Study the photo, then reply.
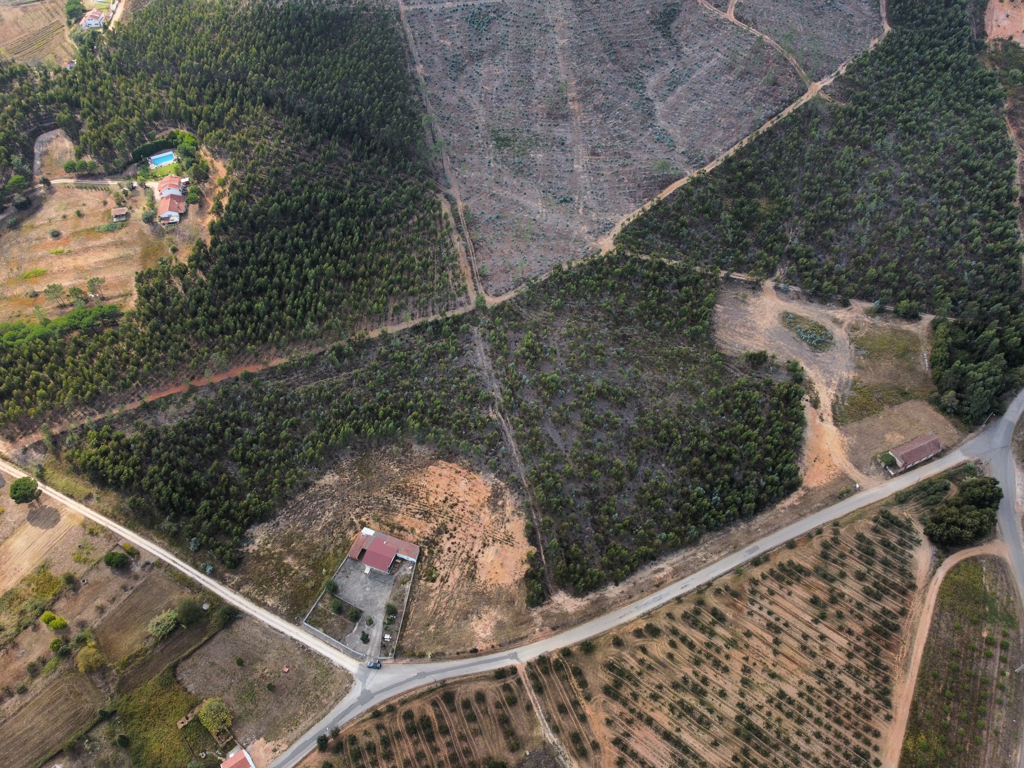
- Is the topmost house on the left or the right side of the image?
left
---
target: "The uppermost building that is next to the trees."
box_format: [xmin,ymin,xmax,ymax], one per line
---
[80,8,114,28]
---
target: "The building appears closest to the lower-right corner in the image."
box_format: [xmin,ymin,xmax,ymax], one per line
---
[876,435,942,476]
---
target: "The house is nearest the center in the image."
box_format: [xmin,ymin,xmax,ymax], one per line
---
[347,527,421,575]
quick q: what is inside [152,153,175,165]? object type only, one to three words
swimming pool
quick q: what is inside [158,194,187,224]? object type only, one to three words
house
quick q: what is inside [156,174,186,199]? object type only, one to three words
house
